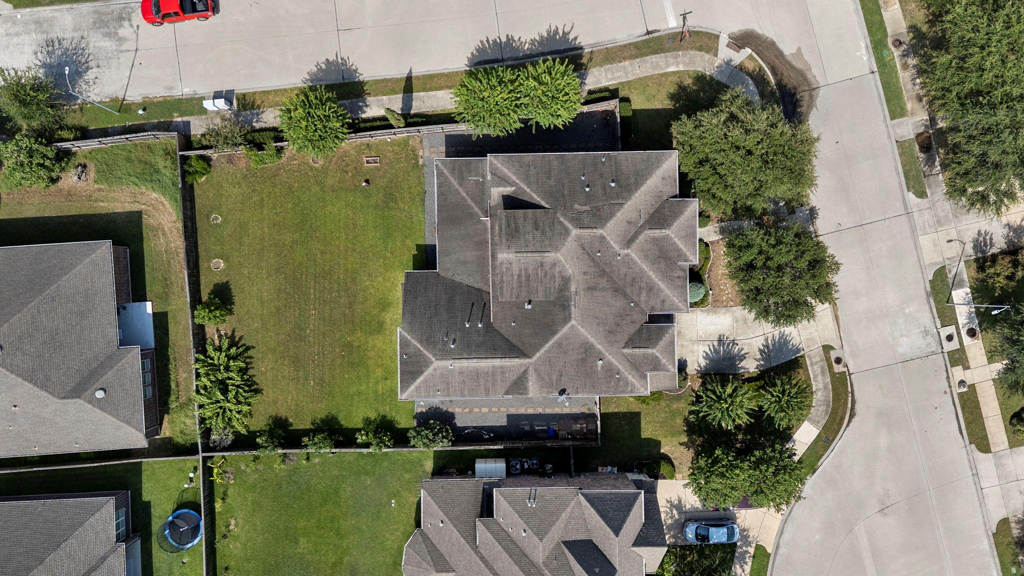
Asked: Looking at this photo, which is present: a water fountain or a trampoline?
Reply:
trampoline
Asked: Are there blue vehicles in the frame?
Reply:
Yes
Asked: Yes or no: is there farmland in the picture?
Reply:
No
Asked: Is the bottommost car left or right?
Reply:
right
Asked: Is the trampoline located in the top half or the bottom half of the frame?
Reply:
bottom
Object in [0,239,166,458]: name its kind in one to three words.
house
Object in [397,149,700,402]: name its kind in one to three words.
house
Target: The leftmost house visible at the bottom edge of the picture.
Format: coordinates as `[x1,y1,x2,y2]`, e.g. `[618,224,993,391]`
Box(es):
[0,489,135,576]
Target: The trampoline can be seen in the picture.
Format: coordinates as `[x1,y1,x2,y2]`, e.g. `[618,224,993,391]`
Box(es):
[154,507,203,554]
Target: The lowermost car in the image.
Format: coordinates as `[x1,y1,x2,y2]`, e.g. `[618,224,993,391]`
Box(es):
[682,518,739,545]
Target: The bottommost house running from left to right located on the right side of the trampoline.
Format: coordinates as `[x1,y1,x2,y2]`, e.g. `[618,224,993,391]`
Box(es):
[401,467,668,576]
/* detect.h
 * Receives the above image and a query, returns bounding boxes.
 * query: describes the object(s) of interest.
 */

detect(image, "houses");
[397,149,700,402]
[0,489,135,576]
[401,467,668,576]
[0,239,166,458]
